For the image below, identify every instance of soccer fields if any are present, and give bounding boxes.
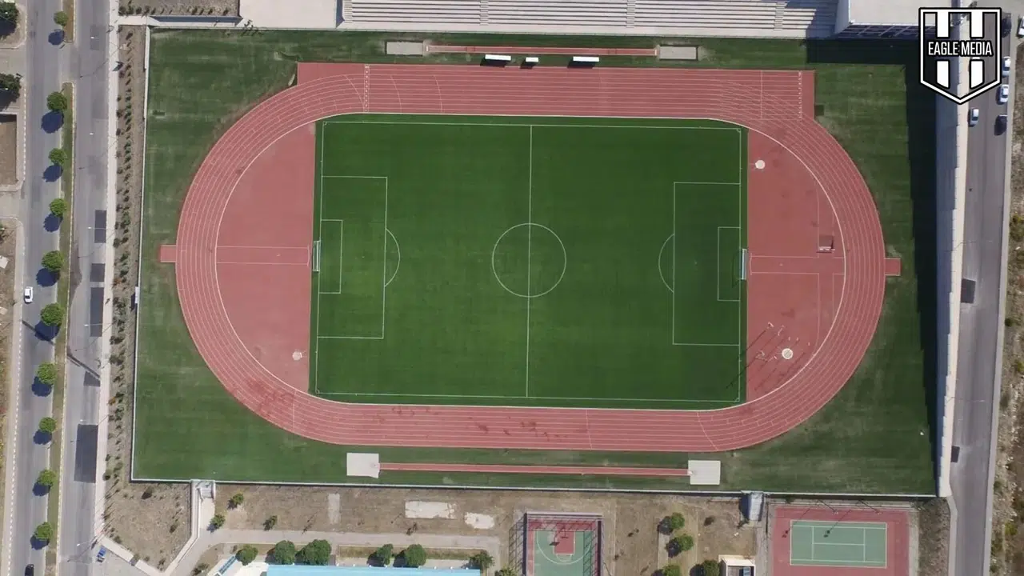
[307,114,747,410]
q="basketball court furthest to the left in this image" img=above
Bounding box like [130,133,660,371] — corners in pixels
[527,516,601,576]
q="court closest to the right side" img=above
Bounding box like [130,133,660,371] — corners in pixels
[770,501,917,576]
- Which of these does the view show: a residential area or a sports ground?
sports ground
